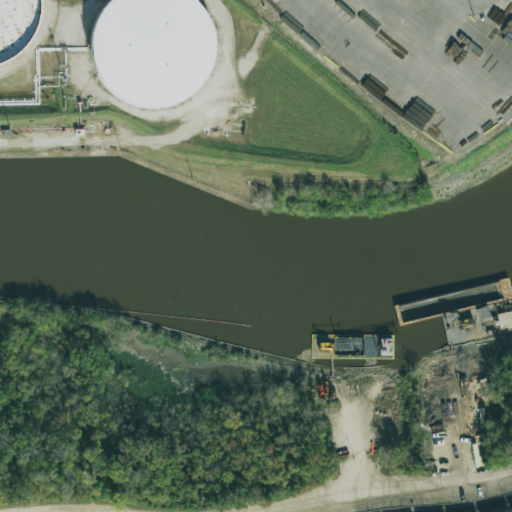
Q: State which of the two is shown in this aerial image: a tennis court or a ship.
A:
ship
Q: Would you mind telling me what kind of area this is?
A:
industrial area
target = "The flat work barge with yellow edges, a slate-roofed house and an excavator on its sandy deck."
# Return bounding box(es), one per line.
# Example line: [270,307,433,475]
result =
[312,334,395,360]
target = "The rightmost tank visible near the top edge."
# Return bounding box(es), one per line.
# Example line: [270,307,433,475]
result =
[92,0,220,112]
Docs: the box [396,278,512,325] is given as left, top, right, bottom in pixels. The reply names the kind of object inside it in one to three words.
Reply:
ship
